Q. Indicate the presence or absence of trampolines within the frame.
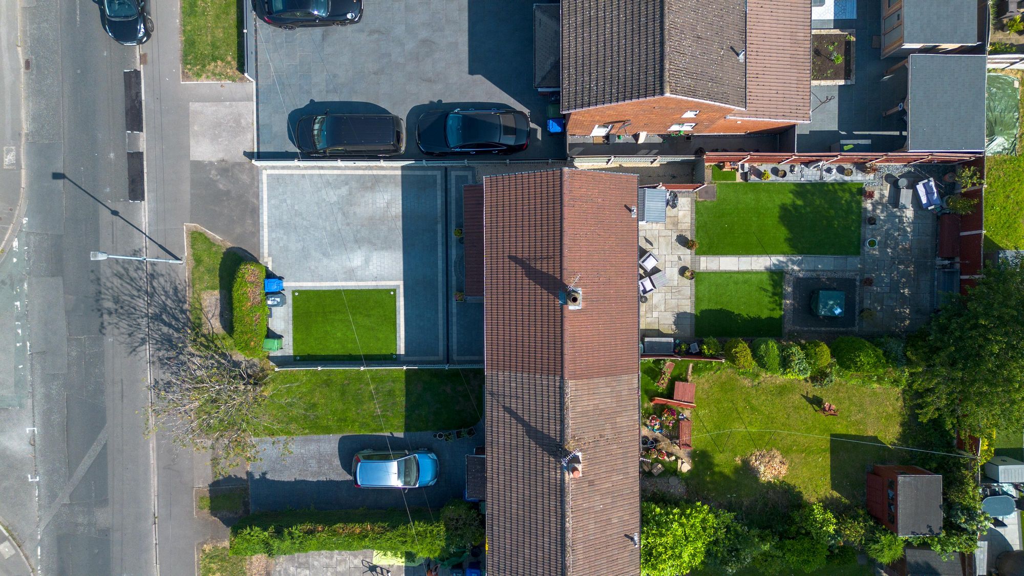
No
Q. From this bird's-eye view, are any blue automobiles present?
Yes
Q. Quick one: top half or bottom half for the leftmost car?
top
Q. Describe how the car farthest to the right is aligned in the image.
from side to side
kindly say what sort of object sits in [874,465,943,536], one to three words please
shed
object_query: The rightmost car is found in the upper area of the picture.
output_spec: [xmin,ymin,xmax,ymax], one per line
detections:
[418,104,530,156]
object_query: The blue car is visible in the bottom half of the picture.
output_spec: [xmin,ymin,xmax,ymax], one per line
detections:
[353,447,439,495]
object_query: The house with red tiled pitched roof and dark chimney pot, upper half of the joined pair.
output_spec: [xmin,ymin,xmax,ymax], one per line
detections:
[462,167,641,378]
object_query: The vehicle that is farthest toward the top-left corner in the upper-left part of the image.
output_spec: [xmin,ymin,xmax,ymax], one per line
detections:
[99,0,154,45]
